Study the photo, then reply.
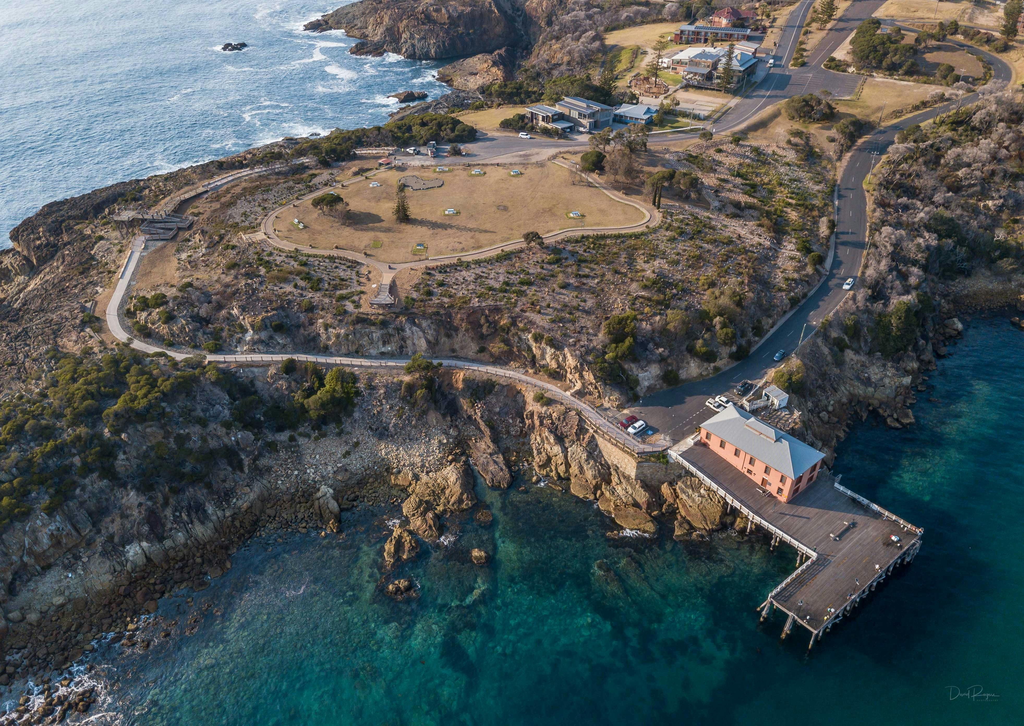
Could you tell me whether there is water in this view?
Yes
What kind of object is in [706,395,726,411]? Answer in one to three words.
vehicle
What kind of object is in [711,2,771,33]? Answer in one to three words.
house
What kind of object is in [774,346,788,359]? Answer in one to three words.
vehicle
